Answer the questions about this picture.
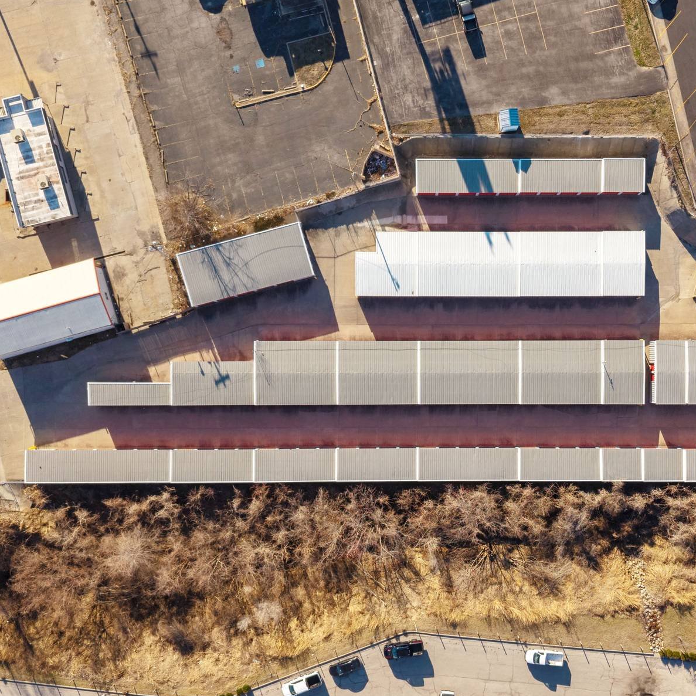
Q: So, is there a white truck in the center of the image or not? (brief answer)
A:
No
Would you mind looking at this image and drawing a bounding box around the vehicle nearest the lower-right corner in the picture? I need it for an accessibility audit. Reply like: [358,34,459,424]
[526,649,563,666]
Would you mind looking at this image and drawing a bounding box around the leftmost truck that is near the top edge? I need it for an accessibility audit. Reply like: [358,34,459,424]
[456,0,479,34]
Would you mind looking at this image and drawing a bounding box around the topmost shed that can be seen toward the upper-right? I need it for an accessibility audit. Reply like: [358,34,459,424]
[499,109,520,134]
